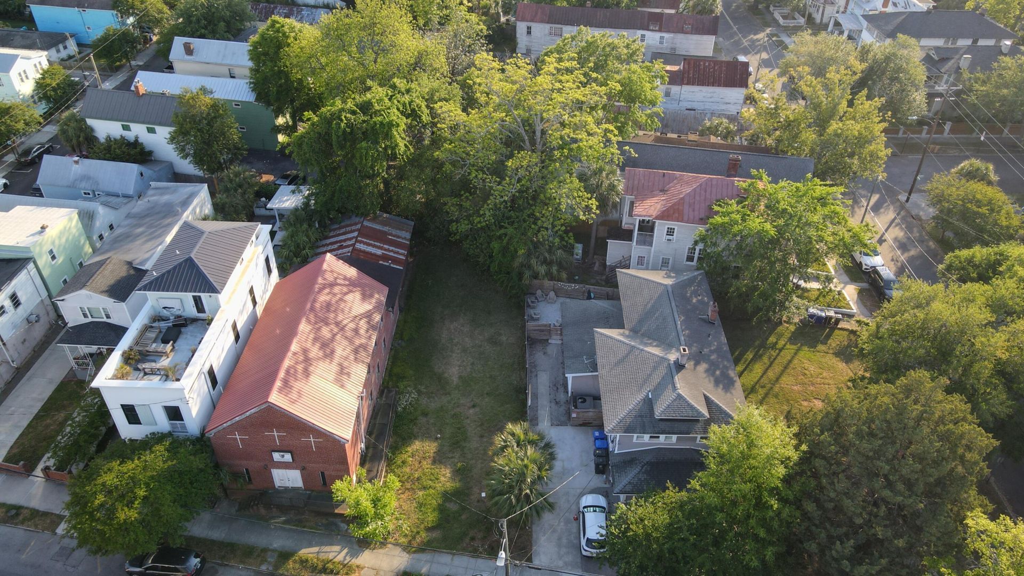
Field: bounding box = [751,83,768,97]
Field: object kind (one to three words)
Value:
car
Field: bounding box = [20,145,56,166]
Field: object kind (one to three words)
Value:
car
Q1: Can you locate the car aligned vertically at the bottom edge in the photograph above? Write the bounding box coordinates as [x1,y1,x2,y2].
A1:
[575,498,609,561]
